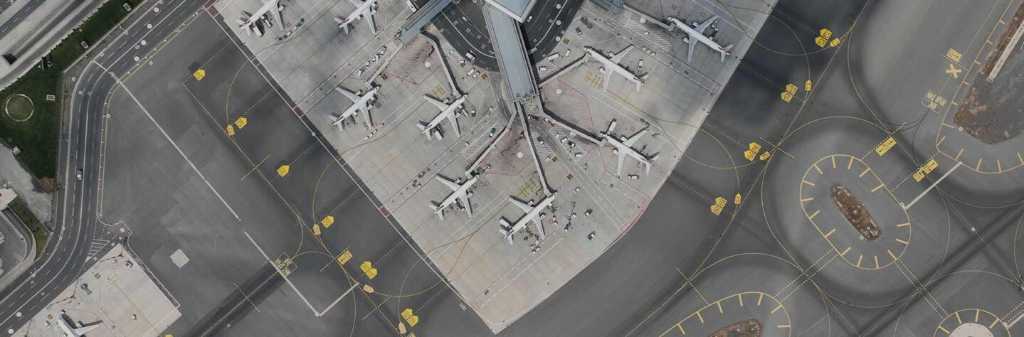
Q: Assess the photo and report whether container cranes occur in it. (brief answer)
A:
No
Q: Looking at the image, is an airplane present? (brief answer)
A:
Yes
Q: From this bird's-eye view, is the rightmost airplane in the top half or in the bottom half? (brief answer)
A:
top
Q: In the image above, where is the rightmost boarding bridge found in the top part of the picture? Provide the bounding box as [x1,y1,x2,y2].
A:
[621,3,675,33]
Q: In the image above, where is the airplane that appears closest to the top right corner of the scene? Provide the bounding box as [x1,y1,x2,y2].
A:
[669,13,736,62]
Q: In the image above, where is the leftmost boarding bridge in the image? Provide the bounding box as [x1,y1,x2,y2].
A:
[365,42,407,89]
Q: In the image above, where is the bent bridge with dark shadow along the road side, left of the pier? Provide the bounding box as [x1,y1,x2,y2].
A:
[419,31,464,97]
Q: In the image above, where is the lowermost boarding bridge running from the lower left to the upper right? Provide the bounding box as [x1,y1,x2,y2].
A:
[467,103,519,177]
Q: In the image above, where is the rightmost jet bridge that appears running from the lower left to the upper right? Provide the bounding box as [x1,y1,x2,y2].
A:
[536,51,591,90]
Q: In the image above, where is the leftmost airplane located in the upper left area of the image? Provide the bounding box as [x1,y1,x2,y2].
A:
[233,0,282,31]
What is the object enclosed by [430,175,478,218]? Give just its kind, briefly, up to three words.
airplane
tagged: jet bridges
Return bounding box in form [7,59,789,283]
[419,31,464,97]
[535,96,607,146]
[365,42,407,89]
[467,103,519,177]
[621,3,675,33]
[536,51,591,90]
[518,102,553,195]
